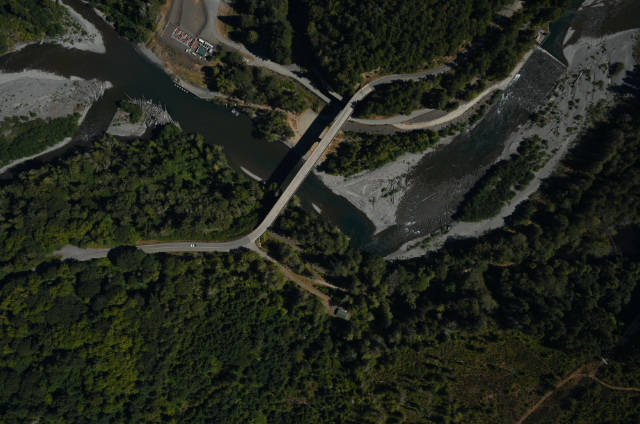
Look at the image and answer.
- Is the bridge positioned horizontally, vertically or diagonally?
diagonally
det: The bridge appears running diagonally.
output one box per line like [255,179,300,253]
[249,83,372,243]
